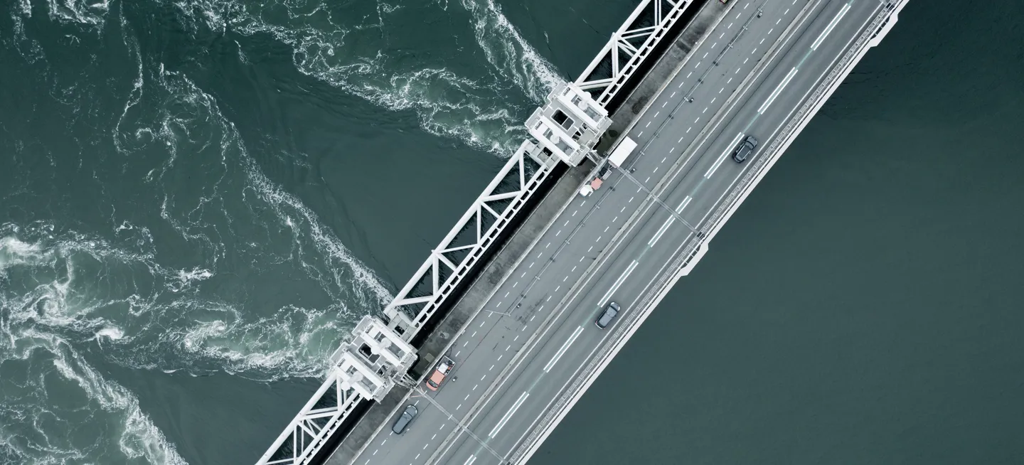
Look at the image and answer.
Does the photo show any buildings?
No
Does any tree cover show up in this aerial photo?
No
